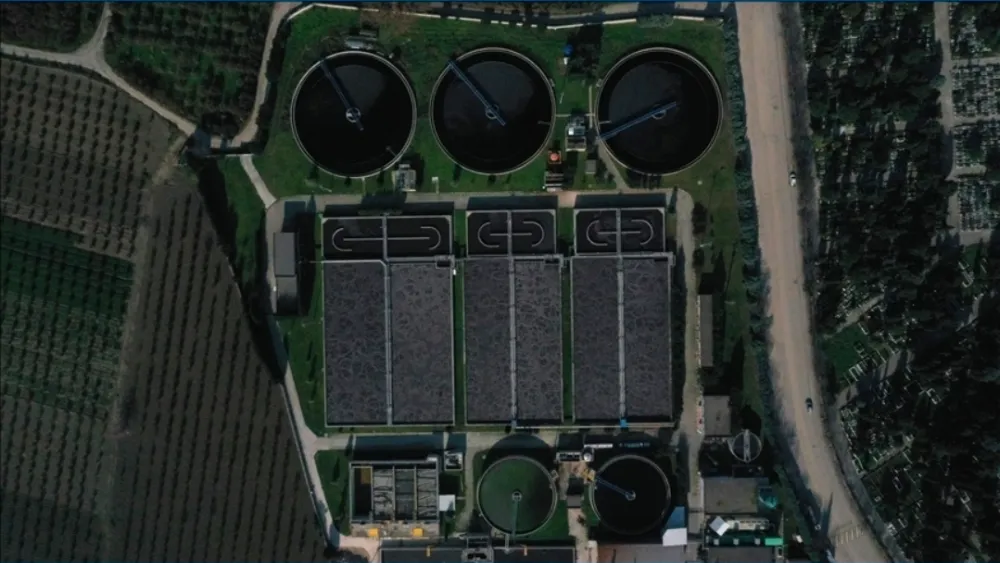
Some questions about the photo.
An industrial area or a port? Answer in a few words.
industrial area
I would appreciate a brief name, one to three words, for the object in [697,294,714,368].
shed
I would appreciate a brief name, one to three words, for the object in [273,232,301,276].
building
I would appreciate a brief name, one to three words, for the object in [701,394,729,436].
building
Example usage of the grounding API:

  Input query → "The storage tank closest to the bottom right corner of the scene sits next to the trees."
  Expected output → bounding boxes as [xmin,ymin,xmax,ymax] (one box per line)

[726,429,762,462]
